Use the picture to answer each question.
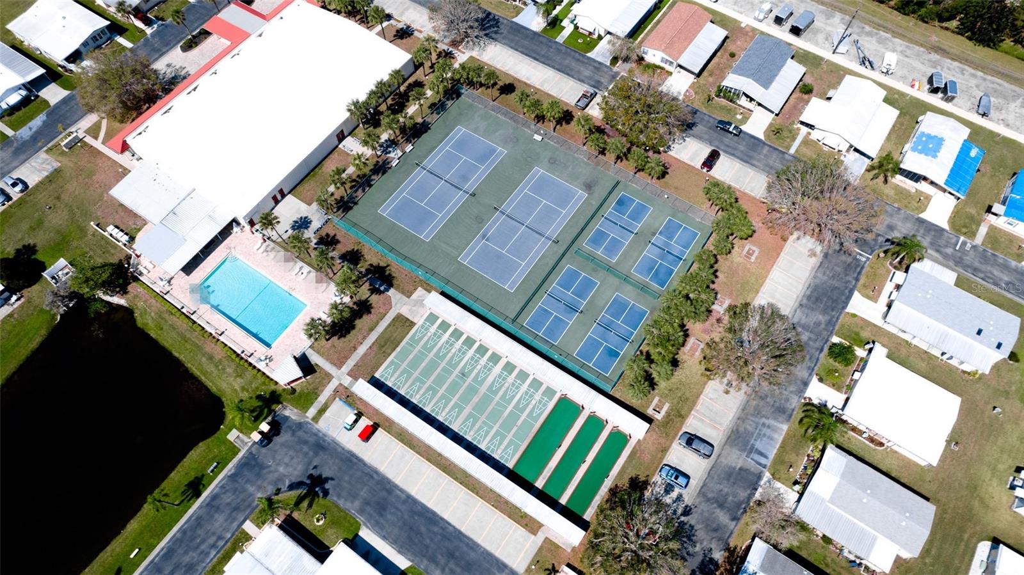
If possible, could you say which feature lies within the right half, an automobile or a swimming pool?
automobile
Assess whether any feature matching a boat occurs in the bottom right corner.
No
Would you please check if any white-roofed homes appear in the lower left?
Yes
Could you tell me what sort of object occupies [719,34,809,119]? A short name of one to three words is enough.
house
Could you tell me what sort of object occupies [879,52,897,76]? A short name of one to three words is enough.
boat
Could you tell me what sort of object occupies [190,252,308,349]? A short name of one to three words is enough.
swimming pool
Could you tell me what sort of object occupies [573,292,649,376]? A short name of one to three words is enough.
sports court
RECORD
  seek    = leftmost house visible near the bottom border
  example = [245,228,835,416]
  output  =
[225,523,322,575]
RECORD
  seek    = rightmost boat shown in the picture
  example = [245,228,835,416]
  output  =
[976,92,992,117]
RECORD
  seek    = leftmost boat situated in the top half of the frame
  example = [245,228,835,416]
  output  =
[834,29,850,54]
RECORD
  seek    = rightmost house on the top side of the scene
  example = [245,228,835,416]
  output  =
[984,170,1024,251]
